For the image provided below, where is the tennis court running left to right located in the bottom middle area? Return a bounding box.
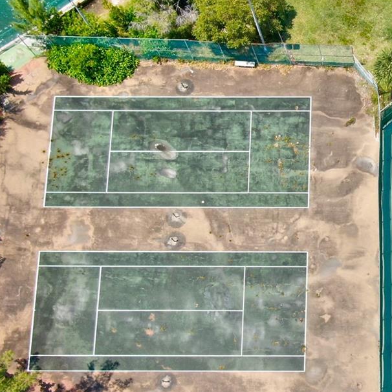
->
[28,250,307,373]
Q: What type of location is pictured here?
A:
sports ground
